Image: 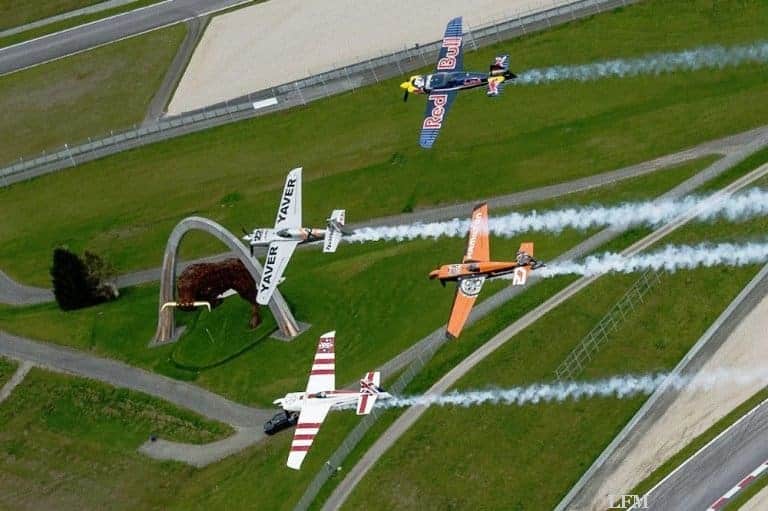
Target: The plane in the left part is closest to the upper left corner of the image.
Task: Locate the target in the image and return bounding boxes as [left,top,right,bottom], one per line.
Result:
[238,169,351,305]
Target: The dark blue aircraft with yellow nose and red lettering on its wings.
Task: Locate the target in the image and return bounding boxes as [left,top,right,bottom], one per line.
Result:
[399,20,516,149]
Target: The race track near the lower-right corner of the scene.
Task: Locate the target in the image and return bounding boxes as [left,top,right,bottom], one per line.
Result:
[627,399,768,511]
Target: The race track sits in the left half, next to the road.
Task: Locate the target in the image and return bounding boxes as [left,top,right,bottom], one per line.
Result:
[0,0,254,75]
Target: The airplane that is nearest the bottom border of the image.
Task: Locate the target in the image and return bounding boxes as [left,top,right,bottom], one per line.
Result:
[270,334,386,467]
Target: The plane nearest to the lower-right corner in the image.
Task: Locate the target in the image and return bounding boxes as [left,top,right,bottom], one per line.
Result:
[427,206,545,338]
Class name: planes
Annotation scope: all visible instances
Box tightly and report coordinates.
[427,206,545,338]
[399,20,516,149]
[270,334,386,467]
[238,169,351,305]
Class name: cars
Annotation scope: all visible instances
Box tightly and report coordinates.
[260,407,302,431]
